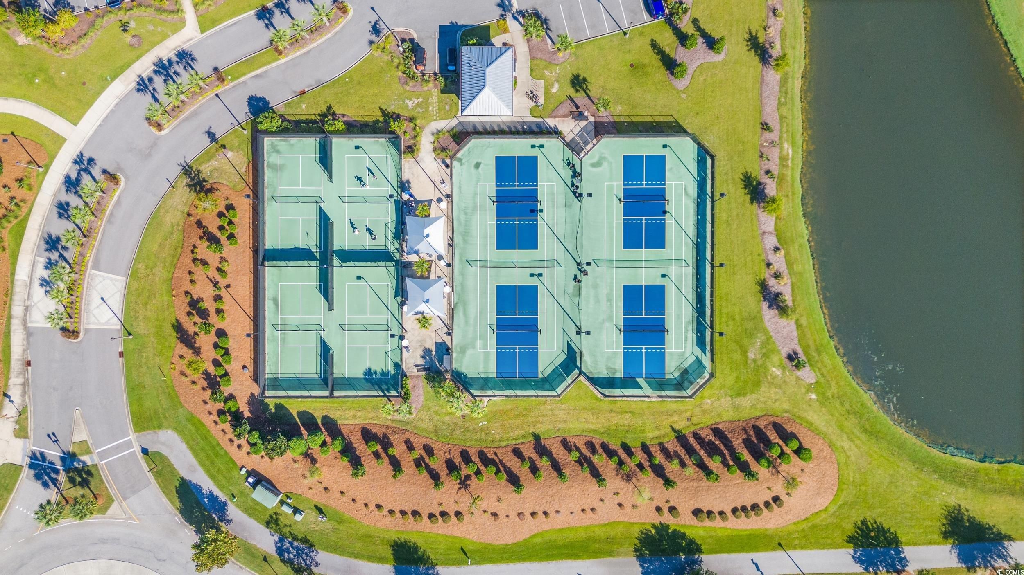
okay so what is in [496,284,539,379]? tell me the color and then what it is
blue sports court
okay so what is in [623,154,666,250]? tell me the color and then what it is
blue sports court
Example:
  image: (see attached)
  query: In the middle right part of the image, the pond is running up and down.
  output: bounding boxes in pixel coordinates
[799,0,1024,464]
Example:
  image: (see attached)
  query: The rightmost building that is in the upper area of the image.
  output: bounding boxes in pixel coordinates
[460,45,514,118]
